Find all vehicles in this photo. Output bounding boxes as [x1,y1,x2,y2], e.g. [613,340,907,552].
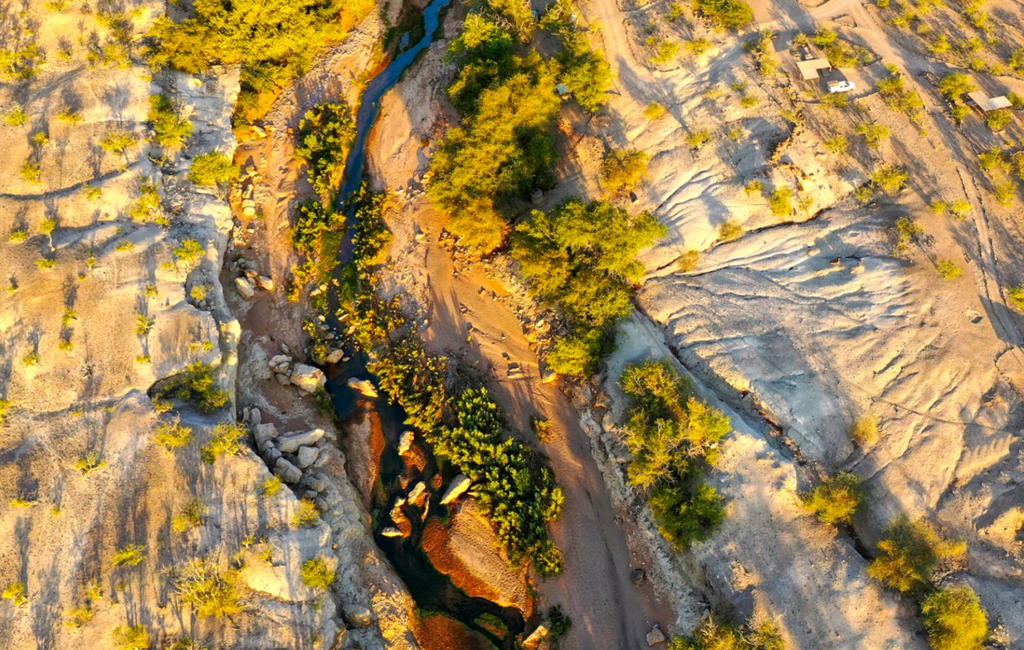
[826,77,860,93]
